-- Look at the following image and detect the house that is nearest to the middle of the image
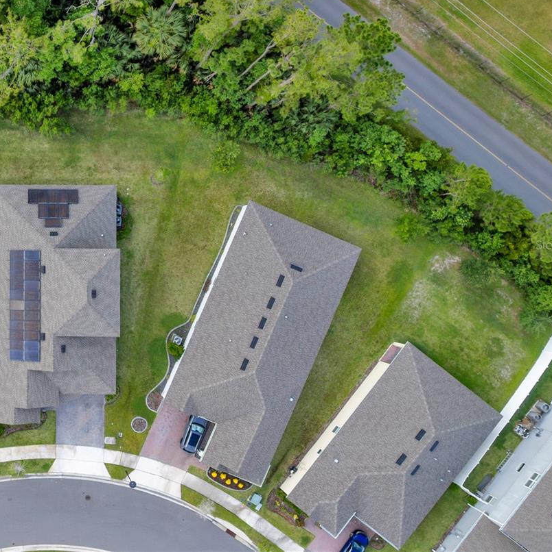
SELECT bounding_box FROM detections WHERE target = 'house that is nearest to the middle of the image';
[163,200,361,488]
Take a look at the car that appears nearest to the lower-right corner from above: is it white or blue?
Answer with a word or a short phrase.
blue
